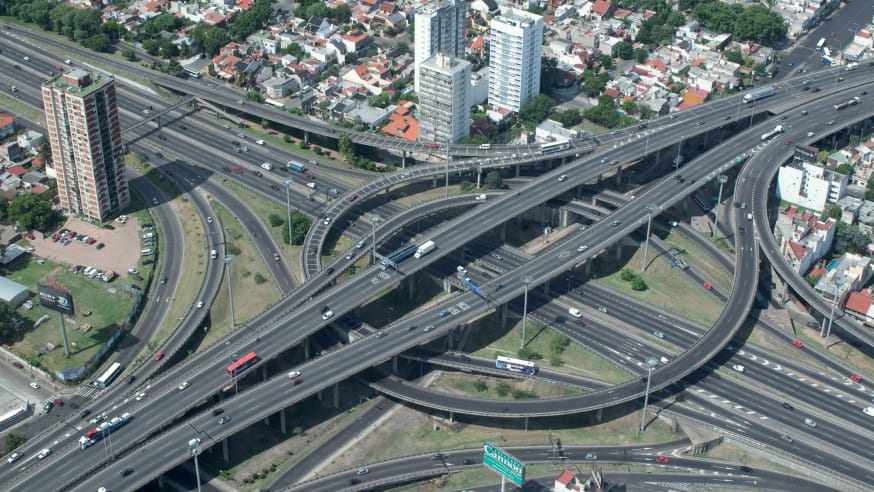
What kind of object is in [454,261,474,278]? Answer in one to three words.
vehicle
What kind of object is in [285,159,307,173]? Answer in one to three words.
vehicle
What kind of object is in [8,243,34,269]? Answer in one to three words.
shed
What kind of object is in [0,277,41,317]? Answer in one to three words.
building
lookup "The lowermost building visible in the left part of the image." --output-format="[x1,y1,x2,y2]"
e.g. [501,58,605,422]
[0,374,44,434]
